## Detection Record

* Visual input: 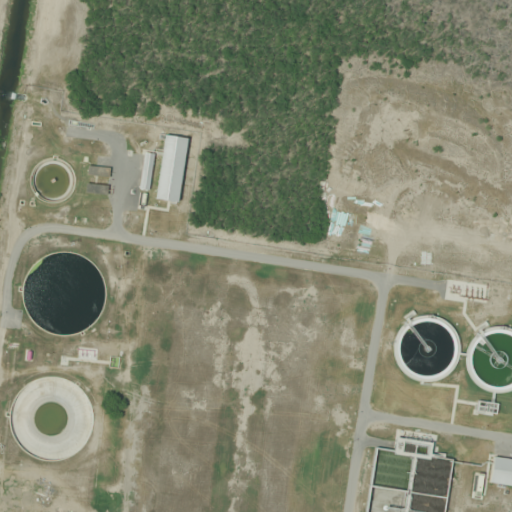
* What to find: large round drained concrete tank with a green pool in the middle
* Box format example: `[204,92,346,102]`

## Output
[6,375,96,462]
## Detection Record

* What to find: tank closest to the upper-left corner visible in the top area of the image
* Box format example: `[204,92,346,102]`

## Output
[29,155,76,204]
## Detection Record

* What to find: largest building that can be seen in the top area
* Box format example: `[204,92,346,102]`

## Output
[157,134,189,202]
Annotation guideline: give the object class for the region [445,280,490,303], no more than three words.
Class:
building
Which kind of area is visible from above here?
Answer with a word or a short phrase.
industrial area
